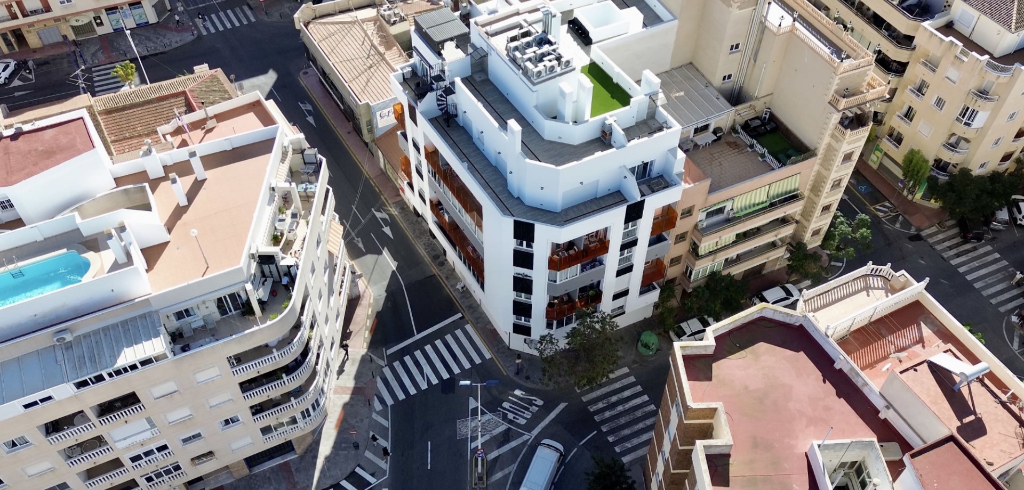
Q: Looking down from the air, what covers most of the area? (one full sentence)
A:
The scene is dominated by buildings.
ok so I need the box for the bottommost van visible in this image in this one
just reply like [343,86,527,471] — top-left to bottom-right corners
[511,435,565,490]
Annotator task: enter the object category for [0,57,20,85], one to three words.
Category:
car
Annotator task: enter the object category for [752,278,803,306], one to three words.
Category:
car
